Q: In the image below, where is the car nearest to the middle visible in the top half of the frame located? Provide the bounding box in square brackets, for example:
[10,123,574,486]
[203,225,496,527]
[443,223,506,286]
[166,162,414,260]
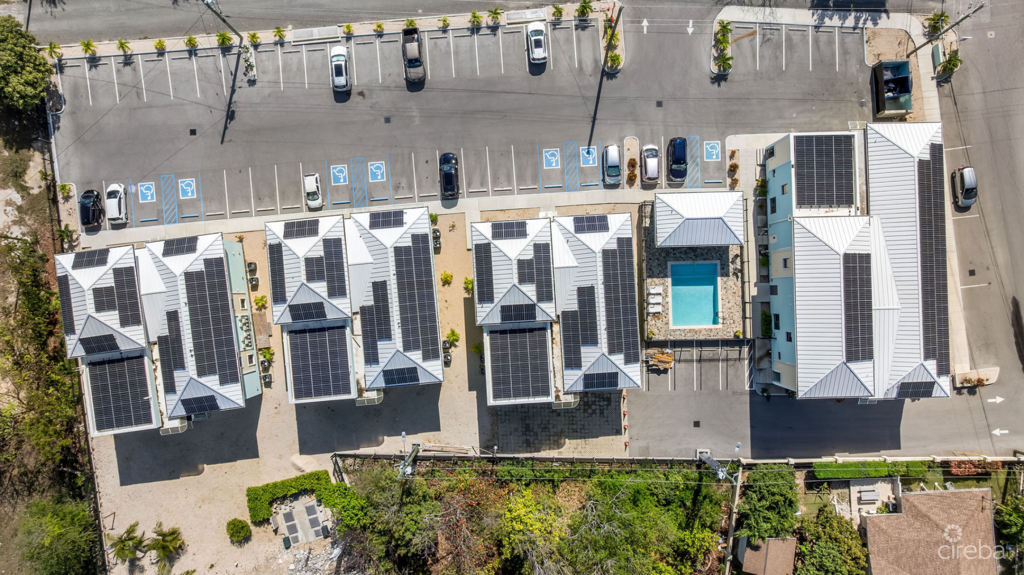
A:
[437,153,460,200]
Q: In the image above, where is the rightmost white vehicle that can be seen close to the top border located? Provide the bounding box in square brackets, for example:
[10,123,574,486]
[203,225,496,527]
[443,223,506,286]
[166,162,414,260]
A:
[526,22,548,65]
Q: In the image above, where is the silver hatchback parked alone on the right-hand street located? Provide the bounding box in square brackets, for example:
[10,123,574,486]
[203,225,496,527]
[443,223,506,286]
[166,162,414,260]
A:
[949,167,976,206]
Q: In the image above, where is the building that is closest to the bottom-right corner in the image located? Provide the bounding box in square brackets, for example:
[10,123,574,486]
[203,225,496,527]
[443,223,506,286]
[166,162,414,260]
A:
[857,485,999,575]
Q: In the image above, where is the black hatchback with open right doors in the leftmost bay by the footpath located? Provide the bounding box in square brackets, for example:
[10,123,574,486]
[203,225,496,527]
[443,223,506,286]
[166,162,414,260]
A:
[77,191,107,228]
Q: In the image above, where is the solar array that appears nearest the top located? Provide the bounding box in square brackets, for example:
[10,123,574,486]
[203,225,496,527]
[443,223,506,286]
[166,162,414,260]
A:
[796,136,853,207]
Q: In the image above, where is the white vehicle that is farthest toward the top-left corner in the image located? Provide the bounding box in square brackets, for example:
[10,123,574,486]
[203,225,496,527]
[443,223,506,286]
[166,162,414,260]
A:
[104,184,130,224]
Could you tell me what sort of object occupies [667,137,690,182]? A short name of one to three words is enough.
car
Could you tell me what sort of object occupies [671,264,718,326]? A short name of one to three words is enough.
swimming pool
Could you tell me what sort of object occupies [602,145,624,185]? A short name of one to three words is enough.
car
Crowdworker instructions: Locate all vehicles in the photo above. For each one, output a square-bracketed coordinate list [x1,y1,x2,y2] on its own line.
[949,167,976,206]
[602,145,624,185]
[667,137,690,182]
[327,46,353,92]
[77,191,107,228]
[303,173,324,209]
[640,145,660,183]
[401,27,425,83]
[437,153,460,200]
[104,184,130,224]
[526,22,548,65]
